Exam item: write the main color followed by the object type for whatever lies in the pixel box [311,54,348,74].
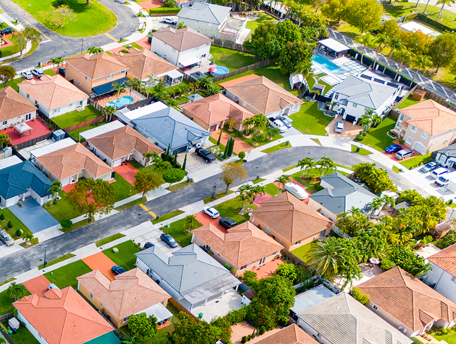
blue swimming pool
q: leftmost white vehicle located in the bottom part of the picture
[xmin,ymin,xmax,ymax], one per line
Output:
[0,227,16,245]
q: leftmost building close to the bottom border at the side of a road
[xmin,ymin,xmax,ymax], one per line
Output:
[15,282,120,344]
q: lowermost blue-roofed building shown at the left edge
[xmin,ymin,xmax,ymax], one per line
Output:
[0,155,51,208]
